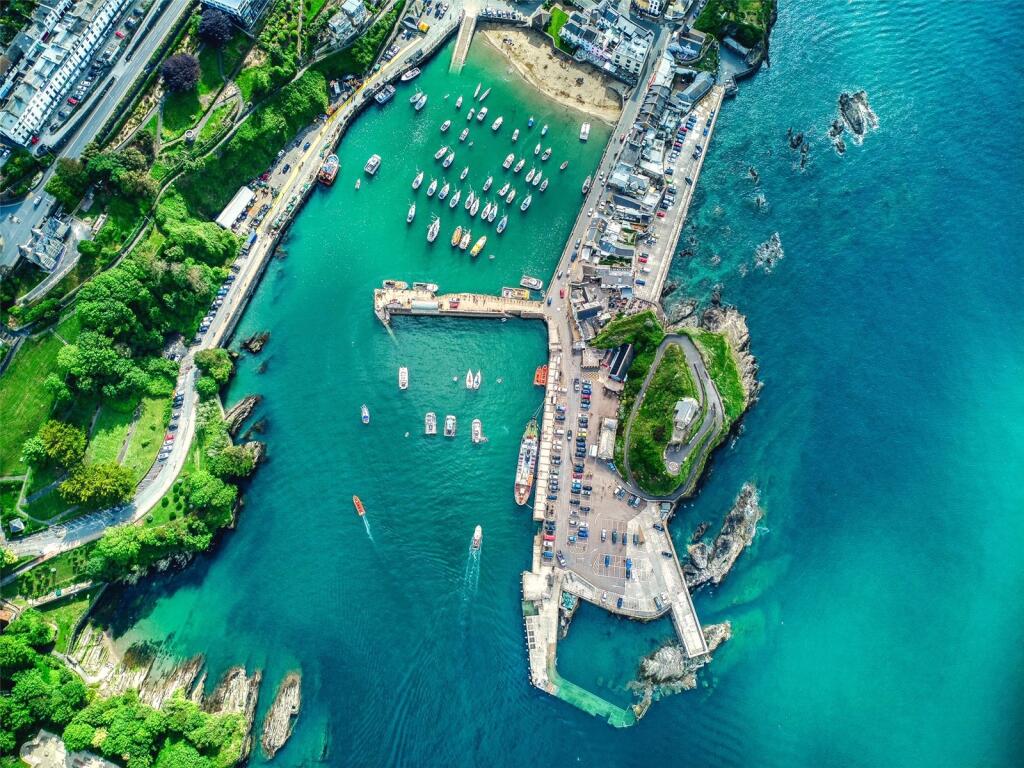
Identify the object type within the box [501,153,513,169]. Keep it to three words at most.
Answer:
boat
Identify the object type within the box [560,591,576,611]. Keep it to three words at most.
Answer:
swimming pool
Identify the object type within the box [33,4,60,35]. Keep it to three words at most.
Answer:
house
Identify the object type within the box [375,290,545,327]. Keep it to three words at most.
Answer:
pier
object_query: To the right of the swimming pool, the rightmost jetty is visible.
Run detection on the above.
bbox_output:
[670,595,711,657]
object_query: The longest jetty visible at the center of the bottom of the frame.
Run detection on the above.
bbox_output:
[522,566,634,727]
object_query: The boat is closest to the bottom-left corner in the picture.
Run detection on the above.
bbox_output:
[353,496,366,517]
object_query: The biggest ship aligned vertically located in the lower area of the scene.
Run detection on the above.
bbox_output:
[515,418,538,506]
